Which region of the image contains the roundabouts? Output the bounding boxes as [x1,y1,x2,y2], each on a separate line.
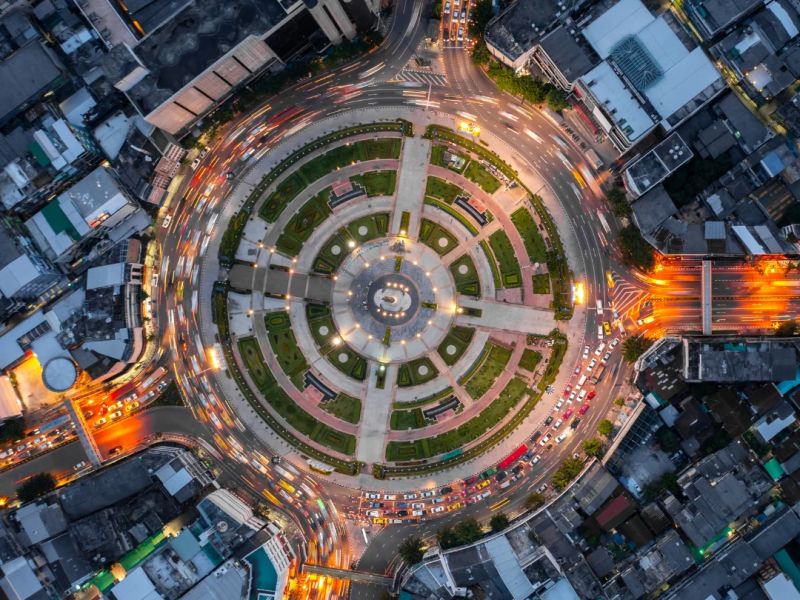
[145,45,647,539]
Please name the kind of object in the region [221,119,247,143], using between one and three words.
bus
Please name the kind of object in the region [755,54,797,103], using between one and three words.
house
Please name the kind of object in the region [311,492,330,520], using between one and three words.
vehicle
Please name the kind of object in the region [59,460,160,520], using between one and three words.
building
